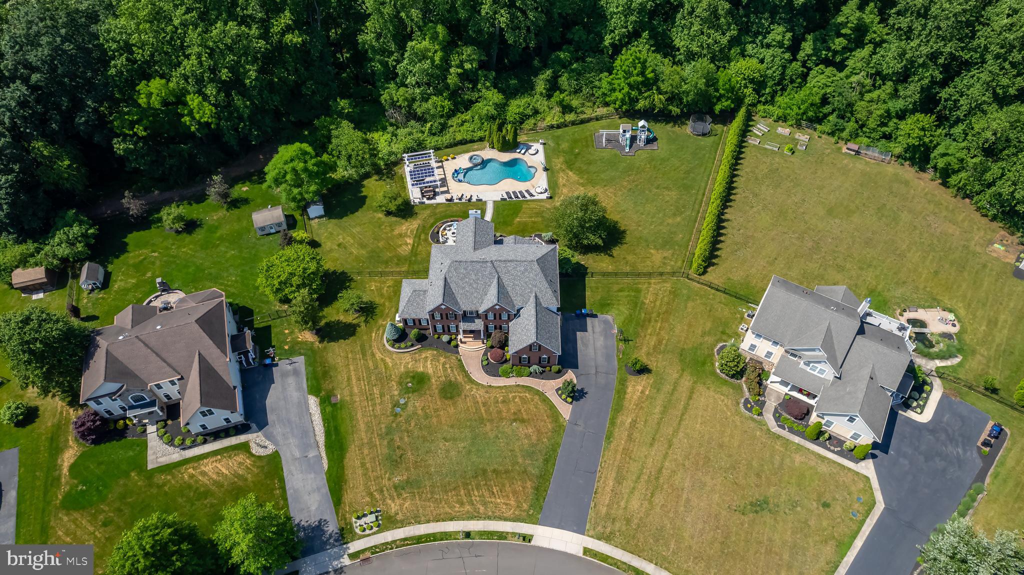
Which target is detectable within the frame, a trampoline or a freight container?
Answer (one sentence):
The one in the frame is a trampoline.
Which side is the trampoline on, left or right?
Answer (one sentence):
You can find the trampoline on the right side of the picture.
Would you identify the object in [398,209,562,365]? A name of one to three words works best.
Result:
house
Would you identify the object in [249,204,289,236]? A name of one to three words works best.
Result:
shed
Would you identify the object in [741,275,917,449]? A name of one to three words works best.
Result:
house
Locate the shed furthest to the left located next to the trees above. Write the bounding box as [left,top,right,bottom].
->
[11,262,61,300]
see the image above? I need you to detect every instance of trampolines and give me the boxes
[690,113,715,139]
